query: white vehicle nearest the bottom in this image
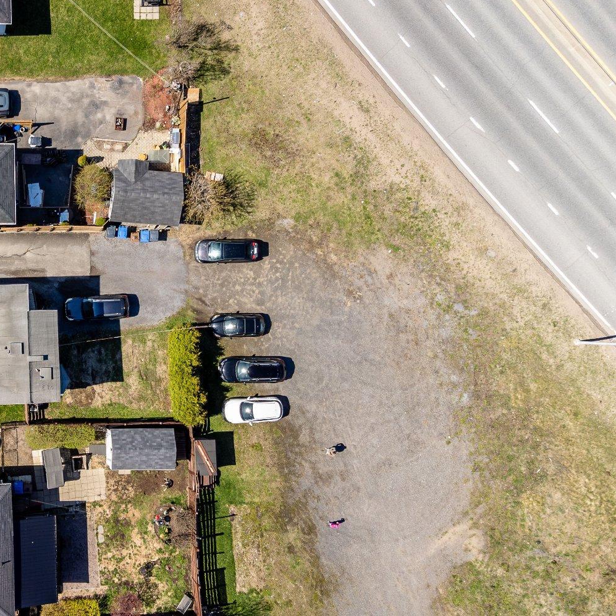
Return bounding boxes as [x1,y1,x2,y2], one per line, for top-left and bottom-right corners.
[222,396,283,425]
